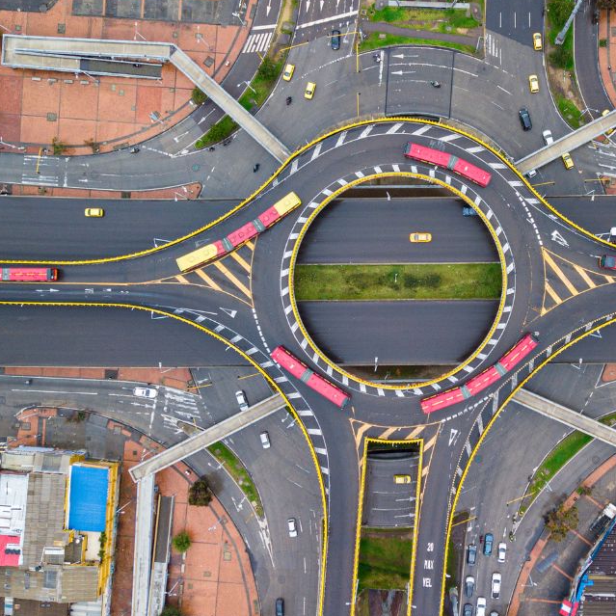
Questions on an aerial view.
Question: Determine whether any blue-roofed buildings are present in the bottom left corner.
Yes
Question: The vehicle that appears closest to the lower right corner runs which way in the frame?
on a diagonal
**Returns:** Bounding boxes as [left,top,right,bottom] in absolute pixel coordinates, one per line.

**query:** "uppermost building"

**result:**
[1,449,81,474]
